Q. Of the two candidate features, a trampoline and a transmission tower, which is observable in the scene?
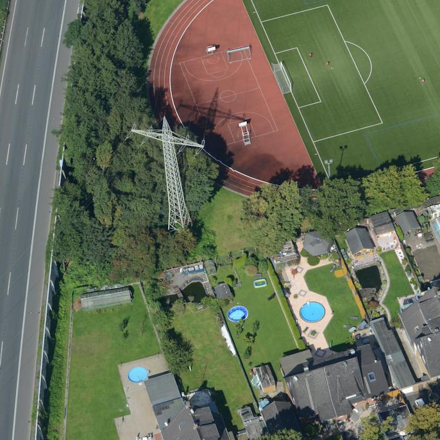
transmission tower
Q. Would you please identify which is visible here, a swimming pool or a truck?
swimming pool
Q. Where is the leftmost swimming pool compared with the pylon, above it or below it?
below it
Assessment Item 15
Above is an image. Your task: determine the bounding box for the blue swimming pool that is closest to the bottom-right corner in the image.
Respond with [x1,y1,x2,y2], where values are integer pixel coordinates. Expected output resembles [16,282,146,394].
[299,301,325,322]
